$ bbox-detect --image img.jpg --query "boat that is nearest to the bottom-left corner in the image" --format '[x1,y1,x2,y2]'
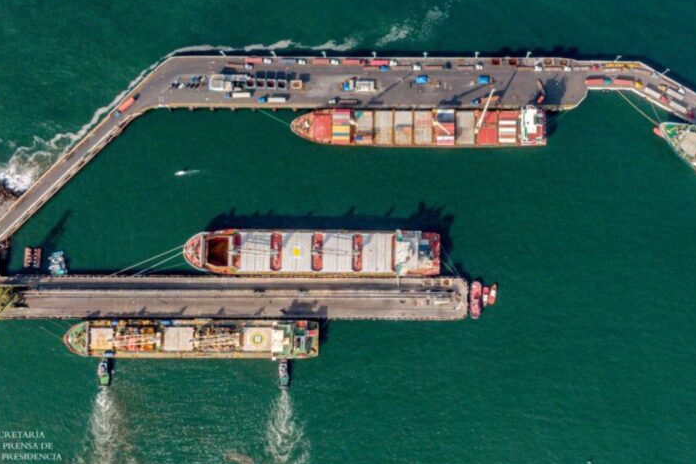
[98,358,111,388]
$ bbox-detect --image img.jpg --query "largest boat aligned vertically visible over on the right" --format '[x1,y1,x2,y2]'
[470,281,482,319]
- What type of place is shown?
port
